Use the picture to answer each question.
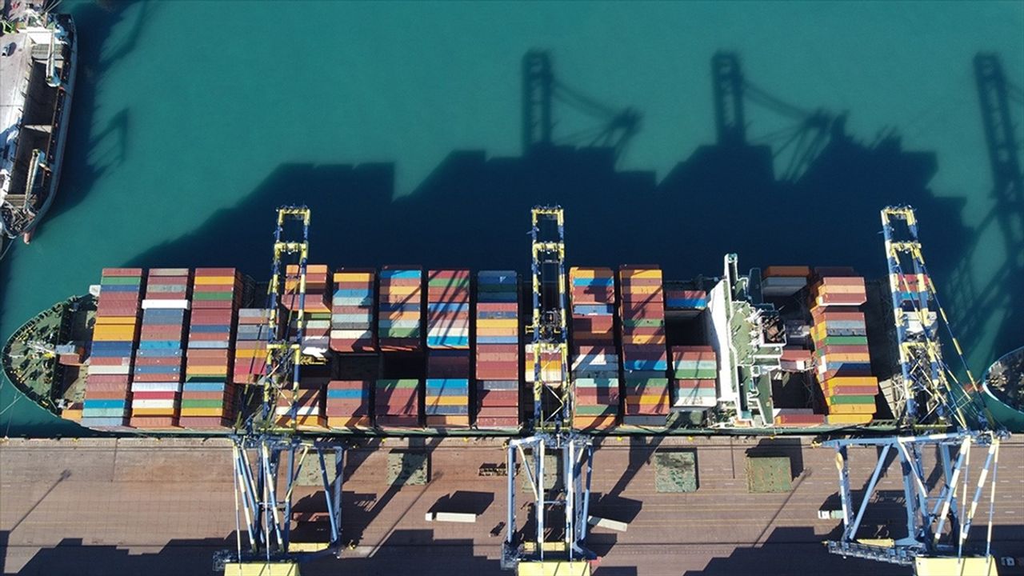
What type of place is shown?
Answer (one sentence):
What you see here is a port.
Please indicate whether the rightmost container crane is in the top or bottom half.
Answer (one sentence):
It is in the bottom half that the rightmost container crane appears.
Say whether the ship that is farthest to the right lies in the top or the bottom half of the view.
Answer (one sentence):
You can find the ship that is farthest to the right in the bottom half.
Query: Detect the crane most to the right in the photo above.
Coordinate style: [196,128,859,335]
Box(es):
[799,203,1015,576]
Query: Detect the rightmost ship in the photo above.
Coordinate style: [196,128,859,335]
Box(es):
[960,345,1024,419]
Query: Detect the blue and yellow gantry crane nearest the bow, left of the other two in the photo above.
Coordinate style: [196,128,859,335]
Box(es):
[214,203,370,576]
